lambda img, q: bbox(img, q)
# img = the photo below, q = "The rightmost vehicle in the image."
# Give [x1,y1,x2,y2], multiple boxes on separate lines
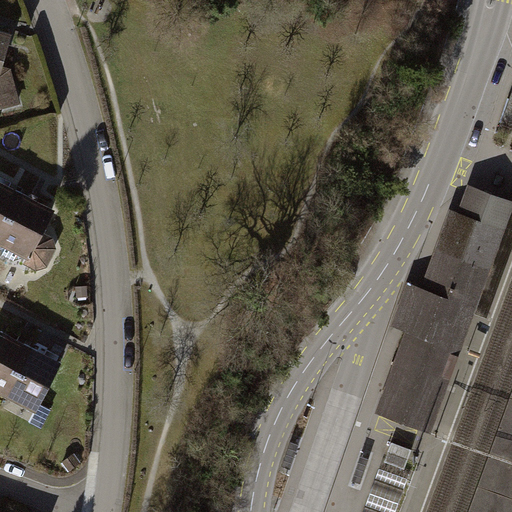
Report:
[491,62,505,84]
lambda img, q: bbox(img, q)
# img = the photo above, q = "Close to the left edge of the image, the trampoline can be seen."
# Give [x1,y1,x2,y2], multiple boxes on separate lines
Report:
[2,132,20,150]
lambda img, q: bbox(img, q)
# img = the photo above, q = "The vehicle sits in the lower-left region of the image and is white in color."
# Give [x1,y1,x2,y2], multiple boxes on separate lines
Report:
[4,464,26,477]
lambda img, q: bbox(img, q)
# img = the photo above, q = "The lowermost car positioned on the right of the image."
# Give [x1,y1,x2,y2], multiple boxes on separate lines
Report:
[468,127,482,148]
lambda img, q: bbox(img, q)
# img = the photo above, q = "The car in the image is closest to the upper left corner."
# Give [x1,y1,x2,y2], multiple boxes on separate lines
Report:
[96,126,109,149]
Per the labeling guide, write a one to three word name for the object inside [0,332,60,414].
house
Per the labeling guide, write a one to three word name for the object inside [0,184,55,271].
house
